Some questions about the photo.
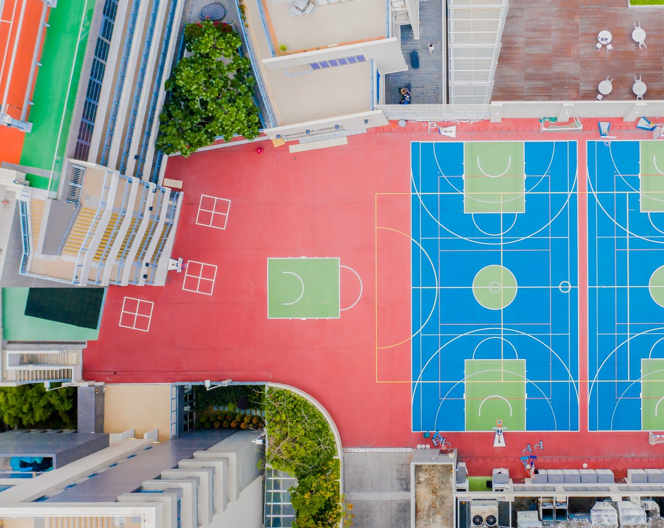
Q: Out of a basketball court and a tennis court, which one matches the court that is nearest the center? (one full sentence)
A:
It turns out the court that is nearest the center is a basketball court.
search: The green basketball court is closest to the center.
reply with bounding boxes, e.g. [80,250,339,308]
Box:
[267,256,363,320]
